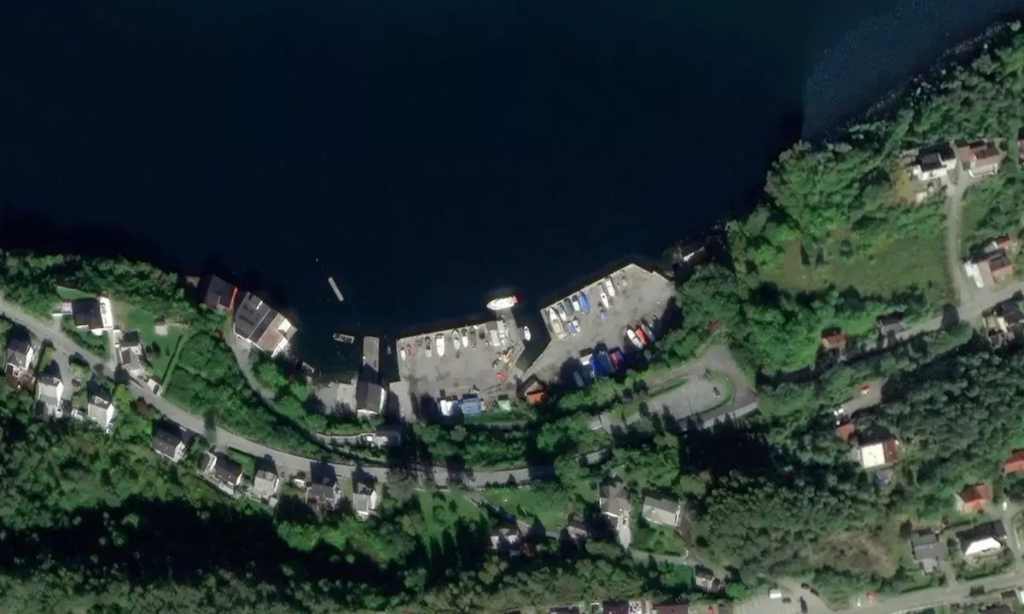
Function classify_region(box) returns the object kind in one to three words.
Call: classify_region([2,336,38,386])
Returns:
house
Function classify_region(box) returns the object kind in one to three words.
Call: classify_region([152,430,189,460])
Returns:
house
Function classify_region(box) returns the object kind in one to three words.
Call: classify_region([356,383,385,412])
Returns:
building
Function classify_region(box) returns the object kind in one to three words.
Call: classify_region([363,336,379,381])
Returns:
pier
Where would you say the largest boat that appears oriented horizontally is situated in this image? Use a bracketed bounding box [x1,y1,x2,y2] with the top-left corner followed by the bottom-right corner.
[487,296,517,309]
